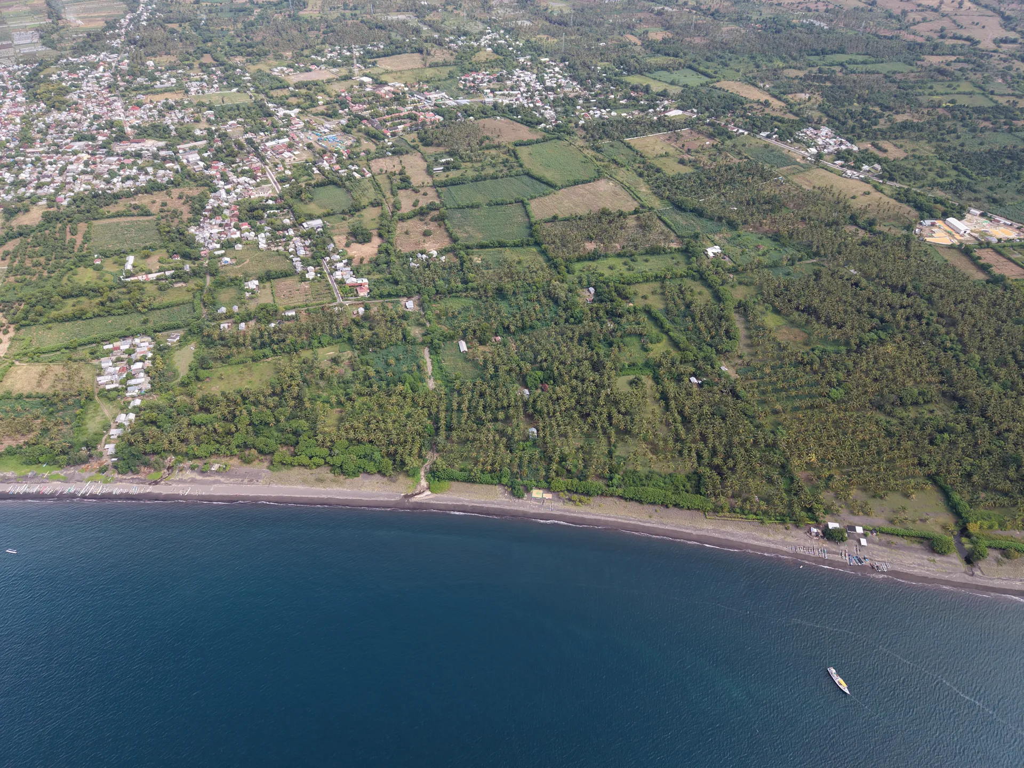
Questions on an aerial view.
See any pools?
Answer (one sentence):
No, I can see no pool in this picture.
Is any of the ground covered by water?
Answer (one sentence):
Yes, there is water in the image.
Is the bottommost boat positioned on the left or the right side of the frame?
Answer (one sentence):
It is on the right.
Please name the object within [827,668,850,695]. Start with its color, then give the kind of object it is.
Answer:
white boat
